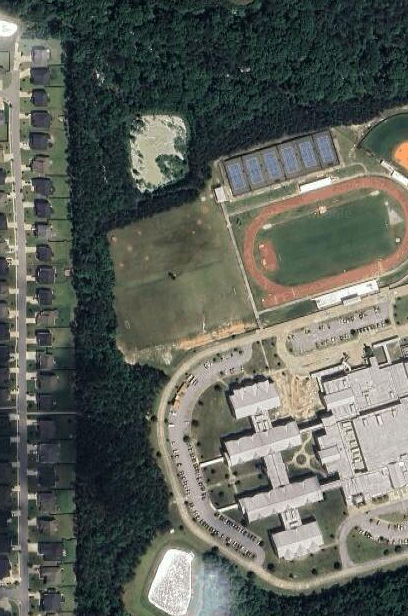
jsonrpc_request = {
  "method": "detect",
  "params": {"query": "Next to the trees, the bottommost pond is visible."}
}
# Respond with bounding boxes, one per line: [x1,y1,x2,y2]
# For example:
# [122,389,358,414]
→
[148,549,192,616]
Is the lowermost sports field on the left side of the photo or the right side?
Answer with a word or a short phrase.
right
